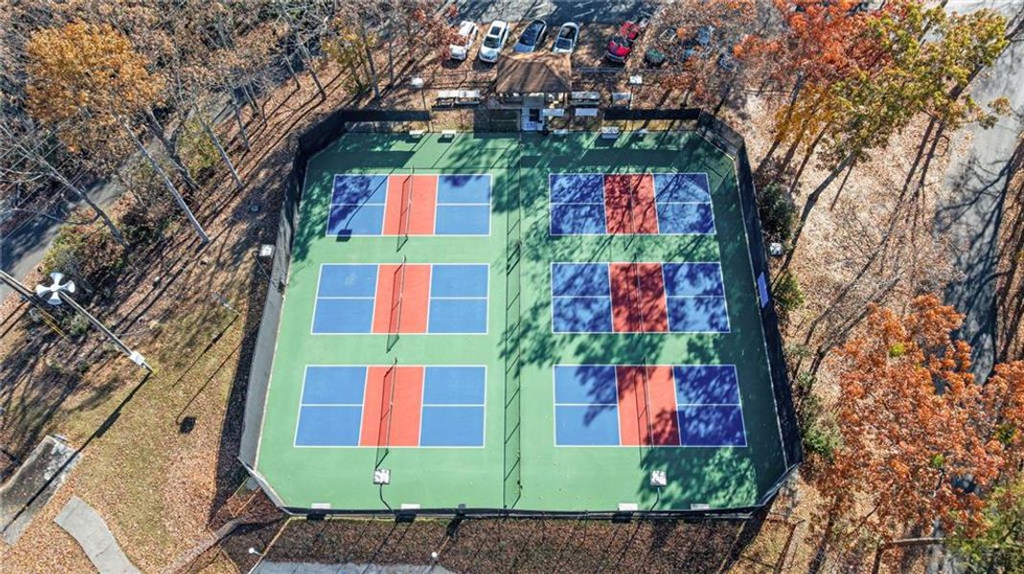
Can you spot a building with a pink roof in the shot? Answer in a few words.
No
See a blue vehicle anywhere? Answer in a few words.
Yes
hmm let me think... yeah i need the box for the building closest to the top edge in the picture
[496,54,573,112]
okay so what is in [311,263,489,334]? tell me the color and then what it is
blue sports court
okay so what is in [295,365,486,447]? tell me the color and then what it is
blue sports court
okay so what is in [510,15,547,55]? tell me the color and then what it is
blue car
